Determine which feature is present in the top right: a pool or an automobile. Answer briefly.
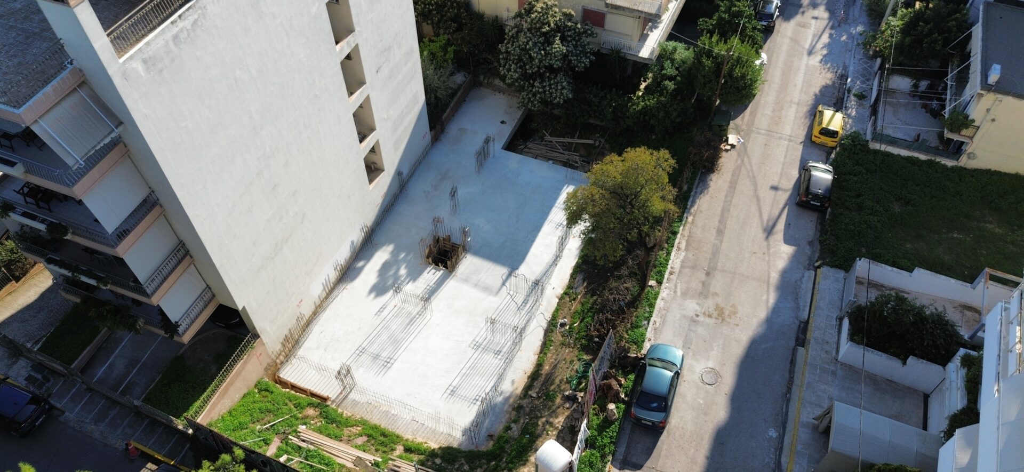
automobile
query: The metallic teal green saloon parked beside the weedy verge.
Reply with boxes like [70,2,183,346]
[627,339,685,430]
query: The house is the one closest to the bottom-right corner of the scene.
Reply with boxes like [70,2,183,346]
[949,301,1024,472]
